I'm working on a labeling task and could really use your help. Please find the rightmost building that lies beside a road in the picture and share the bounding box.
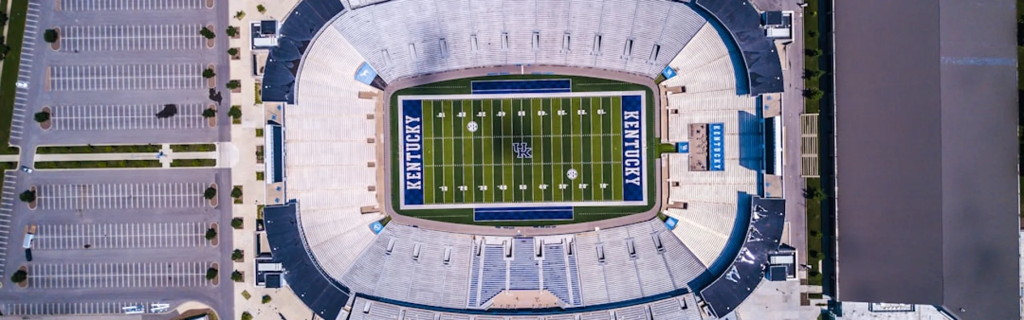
[824,0,1022,320]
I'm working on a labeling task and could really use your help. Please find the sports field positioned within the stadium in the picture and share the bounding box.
[389,74,656,225]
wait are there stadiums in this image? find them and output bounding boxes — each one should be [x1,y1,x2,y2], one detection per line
[251,0,799,320]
